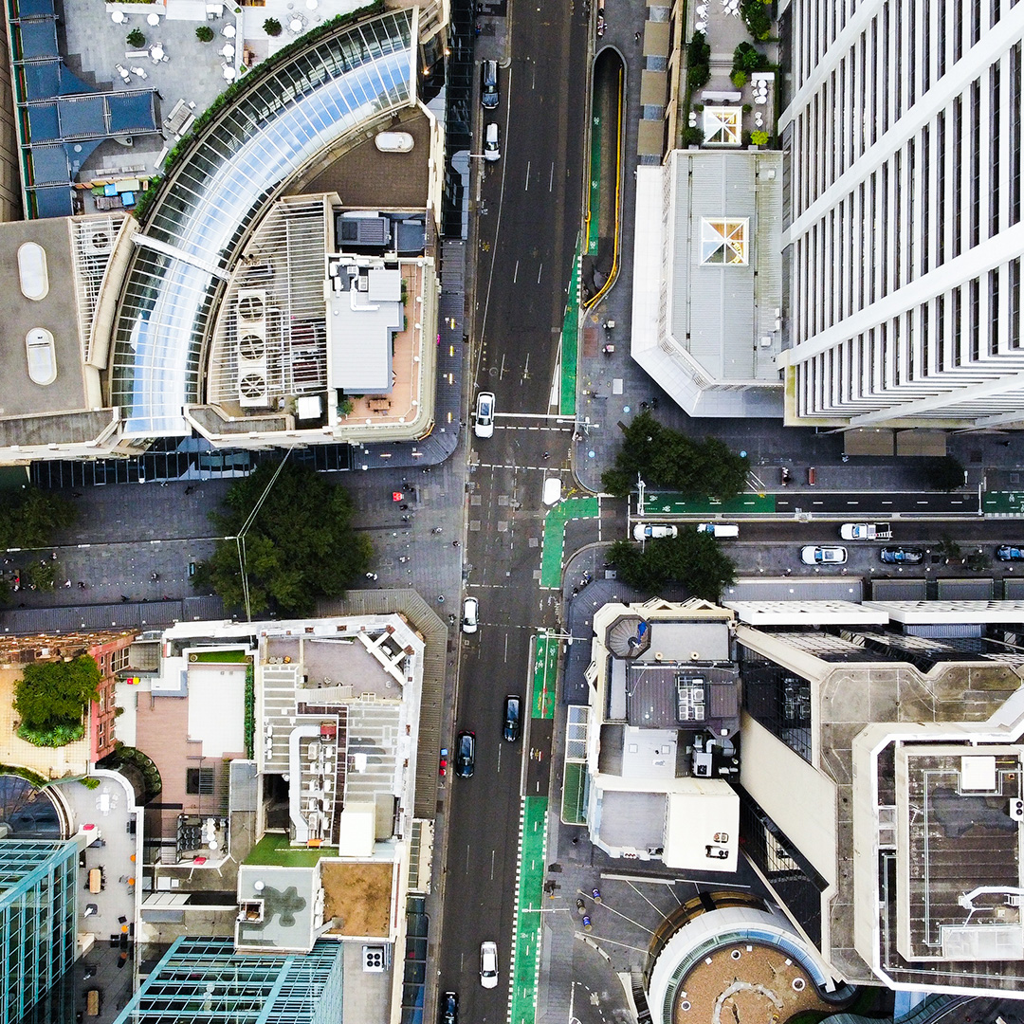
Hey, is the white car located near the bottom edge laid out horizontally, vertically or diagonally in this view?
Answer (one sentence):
From this overhead view, the white car located near the bottom edge appears to run vertically.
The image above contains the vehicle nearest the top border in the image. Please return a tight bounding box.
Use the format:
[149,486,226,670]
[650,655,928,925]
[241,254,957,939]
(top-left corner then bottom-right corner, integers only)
[479,60,501,110]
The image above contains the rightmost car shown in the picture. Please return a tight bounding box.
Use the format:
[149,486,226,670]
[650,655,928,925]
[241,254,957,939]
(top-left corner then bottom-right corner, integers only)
[993,542,1024,563]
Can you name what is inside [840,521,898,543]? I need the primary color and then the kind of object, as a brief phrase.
white truck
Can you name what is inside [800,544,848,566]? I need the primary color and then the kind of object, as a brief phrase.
white car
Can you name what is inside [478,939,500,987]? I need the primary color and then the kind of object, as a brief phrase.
white car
